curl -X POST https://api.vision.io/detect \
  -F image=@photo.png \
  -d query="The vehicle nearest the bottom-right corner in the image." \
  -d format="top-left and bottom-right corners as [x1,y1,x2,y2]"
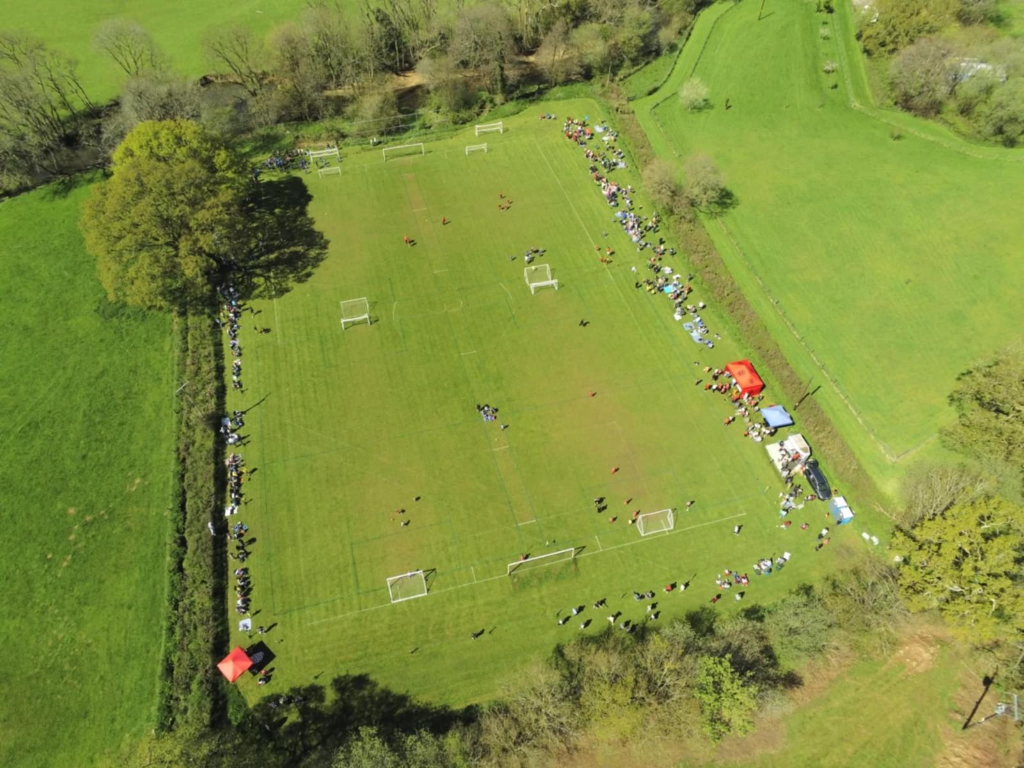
[802,456,834,501]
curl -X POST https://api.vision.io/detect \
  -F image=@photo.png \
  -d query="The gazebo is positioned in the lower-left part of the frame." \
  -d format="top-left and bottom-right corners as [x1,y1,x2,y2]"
[218,647,258,684]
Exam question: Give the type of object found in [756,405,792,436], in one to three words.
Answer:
gazebo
